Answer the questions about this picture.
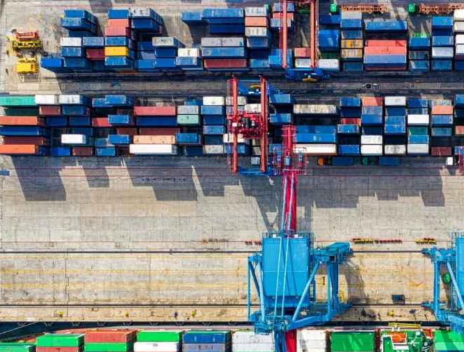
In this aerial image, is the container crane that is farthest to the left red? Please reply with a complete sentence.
Yes, red is the color of the container crane that is farthest to the left.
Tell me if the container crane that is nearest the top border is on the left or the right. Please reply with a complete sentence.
You can find the container crane that is nearest the top border on the right side of the picture.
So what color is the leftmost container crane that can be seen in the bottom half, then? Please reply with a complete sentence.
The color of the leftmost container crane that can be seen in the bottom half is blue.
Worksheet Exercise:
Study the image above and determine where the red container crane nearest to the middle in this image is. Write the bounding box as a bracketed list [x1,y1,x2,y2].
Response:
[228,77,287,179]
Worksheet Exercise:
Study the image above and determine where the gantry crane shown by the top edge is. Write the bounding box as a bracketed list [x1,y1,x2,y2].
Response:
[278,0,334,84]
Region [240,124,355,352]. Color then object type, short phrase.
blue container crane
